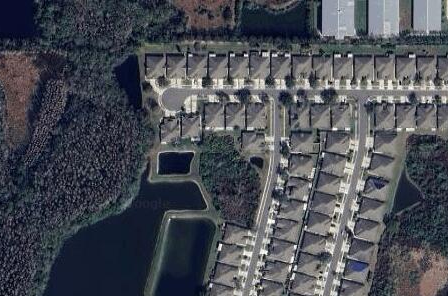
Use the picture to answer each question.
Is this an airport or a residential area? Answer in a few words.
residential area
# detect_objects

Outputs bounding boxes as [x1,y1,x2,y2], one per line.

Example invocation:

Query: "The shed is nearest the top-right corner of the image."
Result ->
[413,0,441,33]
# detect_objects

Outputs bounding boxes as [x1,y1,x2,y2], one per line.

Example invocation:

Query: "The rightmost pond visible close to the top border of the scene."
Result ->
[241,0,308,37]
